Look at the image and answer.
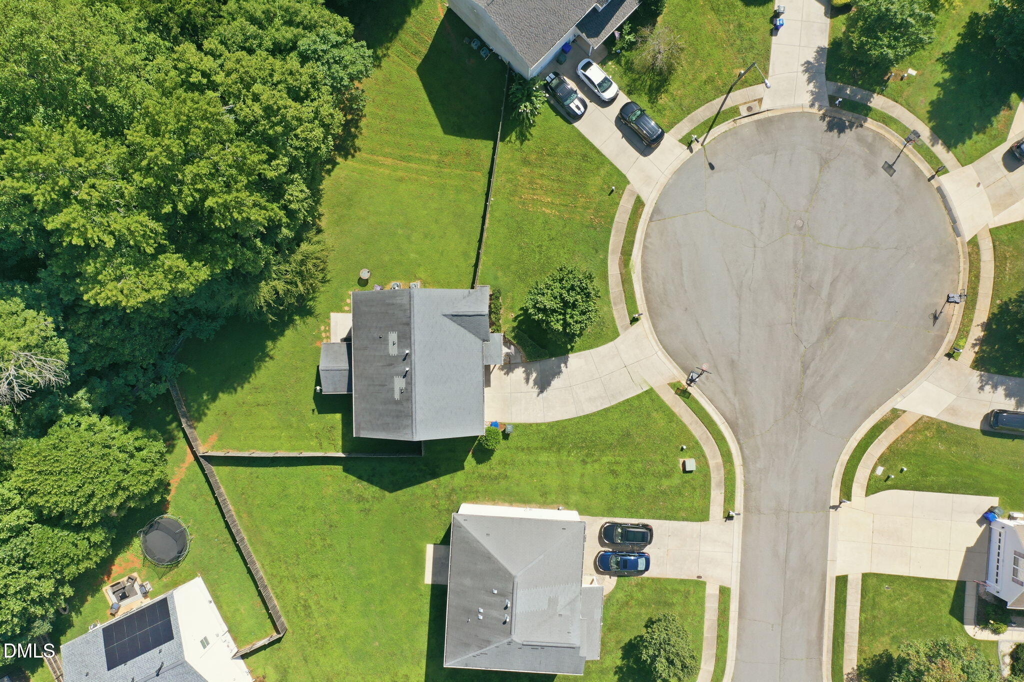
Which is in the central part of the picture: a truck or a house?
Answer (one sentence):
What appears in the central part of the picture is a house.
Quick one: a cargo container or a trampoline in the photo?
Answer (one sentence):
The one in the frame is a trampoline.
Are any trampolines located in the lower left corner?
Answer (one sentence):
Yes, there is a trampoline in the lower left corner.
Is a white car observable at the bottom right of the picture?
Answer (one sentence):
No, no white car is visible at the bottom right of the picture.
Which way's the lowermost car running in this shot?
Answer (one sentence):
The lowermost car has been laid out from left to right relative to the frame.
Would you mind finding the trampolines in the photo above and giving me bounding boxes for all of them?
[138,514,193,567]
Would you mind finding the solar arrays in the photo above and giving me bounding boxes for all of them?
[102,597,173,670]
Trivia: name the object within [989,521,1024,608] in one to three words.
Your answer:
house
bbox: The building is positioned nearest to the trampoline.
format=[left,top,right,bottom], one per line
[60,578,242,682]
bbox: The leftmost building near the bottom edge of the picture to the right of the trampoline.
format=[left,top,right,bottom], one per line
[443,505,605,676]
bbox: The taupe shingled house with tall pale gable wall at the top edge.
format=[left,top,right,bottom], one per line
[447,0,641,80]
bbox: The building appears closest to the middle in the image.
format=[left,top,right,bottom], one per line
[319,284,505,440]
